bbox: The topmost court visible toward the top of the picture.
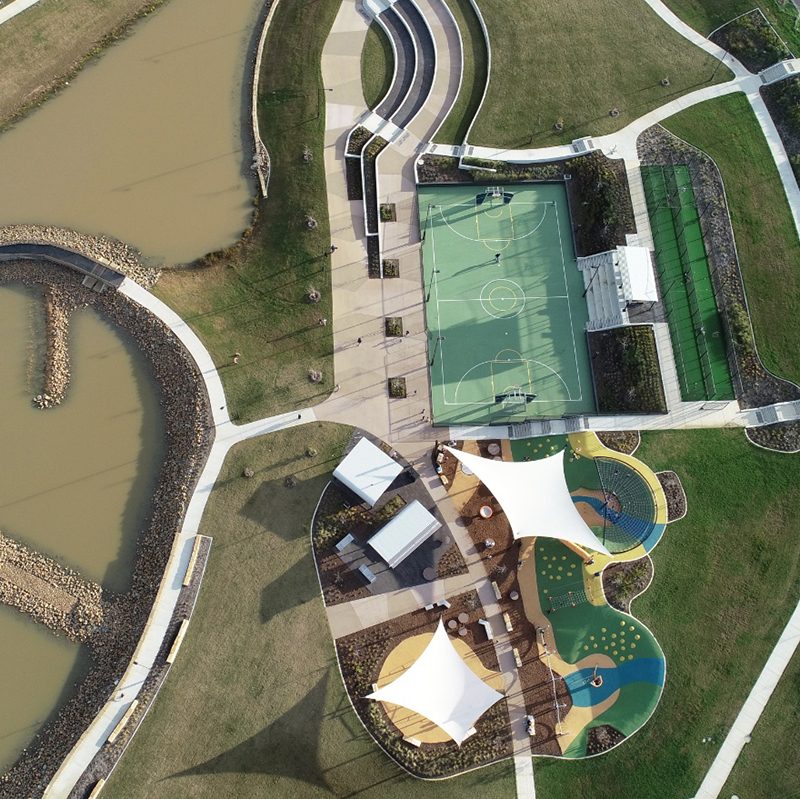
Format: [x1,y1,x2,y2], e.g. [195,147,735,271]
[418,186,594,426]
